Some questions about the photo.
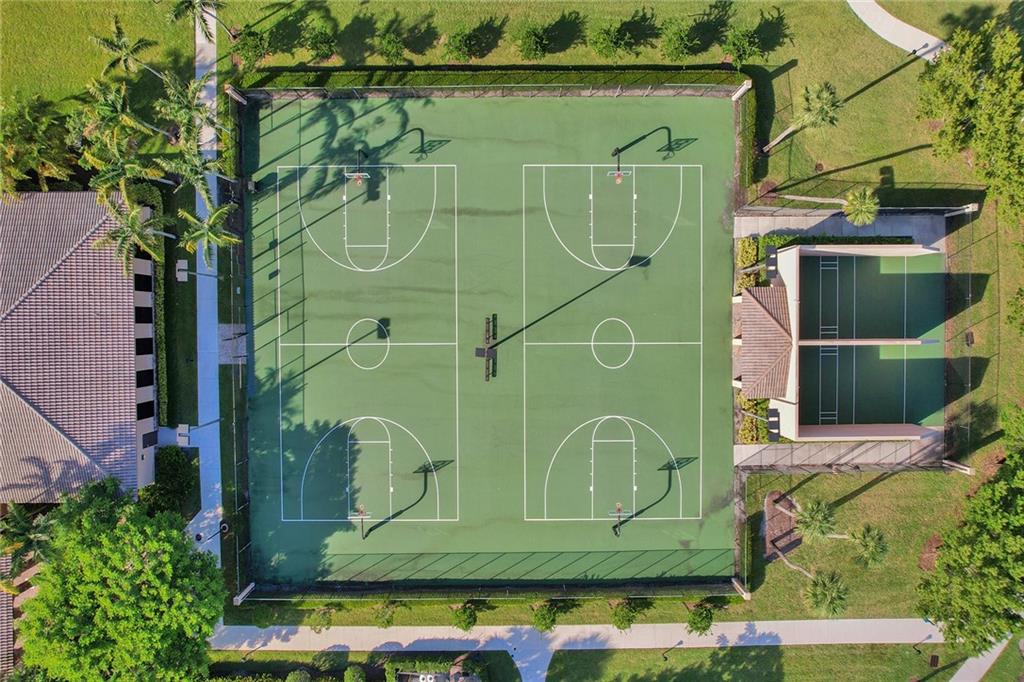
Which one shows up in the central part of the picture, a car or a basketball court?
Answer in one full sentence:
There is a basketball court in the central part of the picture.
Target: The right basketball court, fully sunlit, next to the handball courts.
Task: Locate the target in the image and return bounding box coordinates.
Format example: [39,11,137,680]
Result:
[523,165,702,520]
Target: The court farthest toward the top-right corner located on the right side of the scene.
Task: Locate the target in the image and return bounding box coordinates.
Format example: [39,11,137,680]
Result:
[800,254,943,340]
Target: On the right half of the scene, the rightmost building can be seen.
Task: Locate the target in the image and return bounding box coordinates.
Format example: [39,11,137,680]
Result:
[734,286,794,399]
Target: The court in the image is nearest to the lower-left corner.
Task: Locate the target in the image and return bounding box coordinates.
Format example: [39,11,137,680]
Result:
[277,165,459,521]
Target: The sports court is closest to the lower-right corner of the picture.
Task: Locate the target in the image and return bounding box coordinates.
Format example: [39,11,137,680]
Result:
[799,341,943,427]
